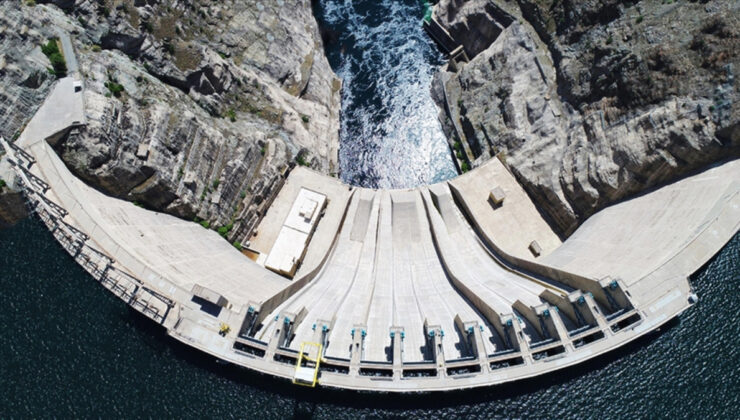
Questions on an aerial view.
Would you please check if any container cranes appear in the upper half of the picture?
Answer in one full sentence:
No, there's no container crane to be seen in the upper half of the picture.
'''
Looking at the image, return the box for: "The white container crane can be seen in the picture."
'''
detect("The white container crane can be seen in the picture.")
[293,342,326,388]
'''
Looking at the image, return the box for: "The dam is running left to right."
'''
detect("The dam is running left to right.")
[0,126,740,393]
